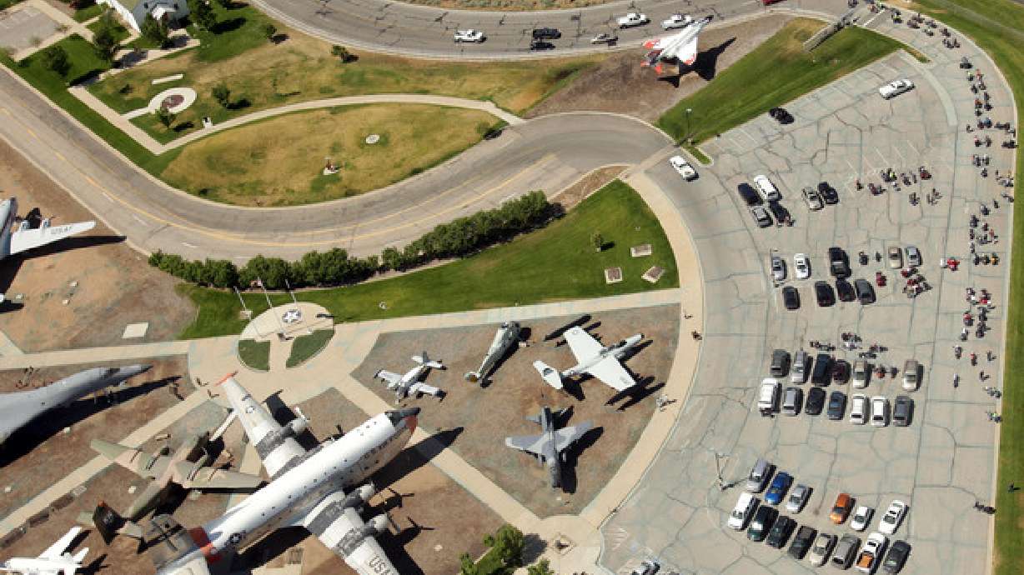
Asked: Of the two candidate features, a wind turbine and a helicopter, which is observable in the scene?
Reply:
helicopter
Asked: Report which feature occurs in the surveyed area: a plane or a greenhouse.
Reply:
plane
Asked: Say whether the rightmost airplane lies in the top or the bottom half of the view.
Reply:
top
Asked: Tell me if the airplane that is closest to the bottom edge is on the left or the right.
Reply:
left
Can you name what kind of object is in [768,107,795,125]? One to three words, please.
car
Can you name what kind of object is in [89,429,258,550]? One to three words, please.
airplane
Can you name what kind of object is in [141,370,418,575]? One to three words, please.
airplane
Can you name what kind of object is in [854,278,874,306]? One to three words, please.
vehicle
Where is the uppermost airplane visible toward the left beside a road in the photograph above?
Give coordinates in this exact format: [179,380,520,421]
[0,196,96,301]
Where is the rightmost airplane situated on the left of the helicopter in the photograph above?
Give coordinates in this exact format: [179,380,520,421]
[377,351,448,403]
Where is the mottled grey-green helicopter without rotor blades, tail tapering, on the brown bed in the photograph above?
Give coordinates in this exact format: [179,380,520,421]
[461,321,515,386]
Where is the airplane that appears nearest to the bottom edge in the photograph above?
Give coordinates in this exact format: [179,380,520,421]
[2,526,93,575]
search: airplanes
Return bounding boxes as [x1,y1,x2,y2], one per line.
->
[506,399,590,491]
[377,351,448,403]
[89,429,258,550]
[642,17,713,80]
[531,314,652,406]
[141,370,418,575]
[0,196,96,301]
[0,366,153,454]
[2,526,93,575]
